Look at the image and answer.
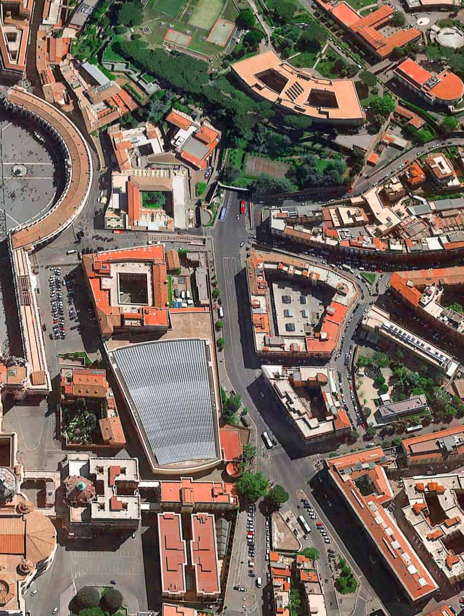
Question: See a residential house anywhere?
Yes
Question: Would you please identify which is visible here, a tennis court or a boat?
tennis court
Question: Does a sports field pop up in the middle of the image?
No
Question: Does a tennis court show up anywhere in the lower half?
No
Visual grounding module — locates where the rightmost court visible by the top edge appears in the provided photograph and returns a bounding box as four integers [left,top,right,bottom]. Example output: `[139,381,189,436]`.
[207,18,235,47]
